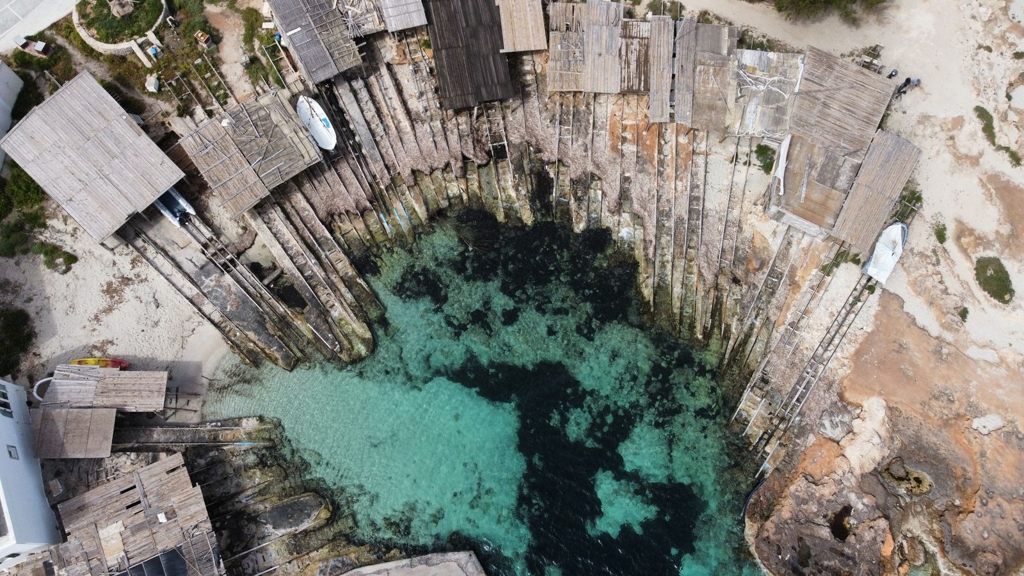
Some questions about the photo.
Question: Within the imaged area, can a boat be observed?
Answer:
Yes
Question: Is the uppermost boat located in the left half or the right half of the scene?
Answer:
left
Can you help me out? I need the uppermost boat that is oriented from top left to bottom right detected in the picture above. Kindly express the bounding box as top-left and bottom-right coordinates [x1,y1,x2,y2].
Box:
[296,94,341,155]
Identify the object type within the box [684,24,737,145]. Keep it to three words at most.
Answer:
shed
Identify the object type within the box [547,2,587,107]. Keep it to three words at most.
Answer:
shed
